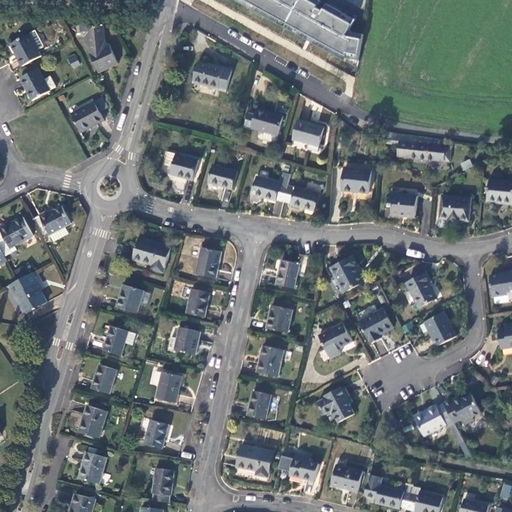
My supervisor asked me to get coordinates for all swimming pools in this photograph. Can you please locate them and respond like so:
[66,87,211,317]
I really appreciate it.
[268,392,282,422]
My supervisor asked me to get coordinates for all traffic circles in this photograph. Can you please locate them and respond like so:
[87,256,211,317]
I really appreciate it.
[84,162,136,214]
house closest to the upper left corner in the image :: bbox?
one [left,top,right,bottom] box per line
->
[10,30,43,65]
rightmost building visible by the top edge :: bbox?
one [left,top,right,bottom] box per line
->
[242,0,364,62]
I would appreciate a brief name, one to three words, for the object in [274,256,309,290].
house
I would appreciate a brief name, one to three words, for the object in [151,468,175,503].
house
